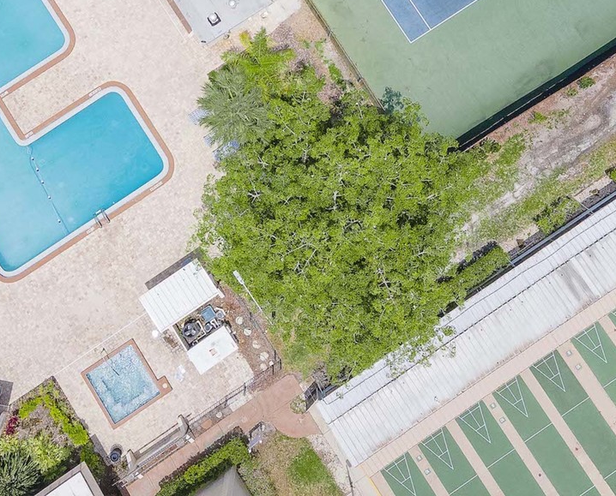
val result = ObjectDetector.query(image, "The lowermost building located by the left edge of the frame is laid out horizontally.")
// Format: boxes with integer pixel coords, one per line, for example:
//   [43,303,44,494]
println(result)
[28,451,124,496]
